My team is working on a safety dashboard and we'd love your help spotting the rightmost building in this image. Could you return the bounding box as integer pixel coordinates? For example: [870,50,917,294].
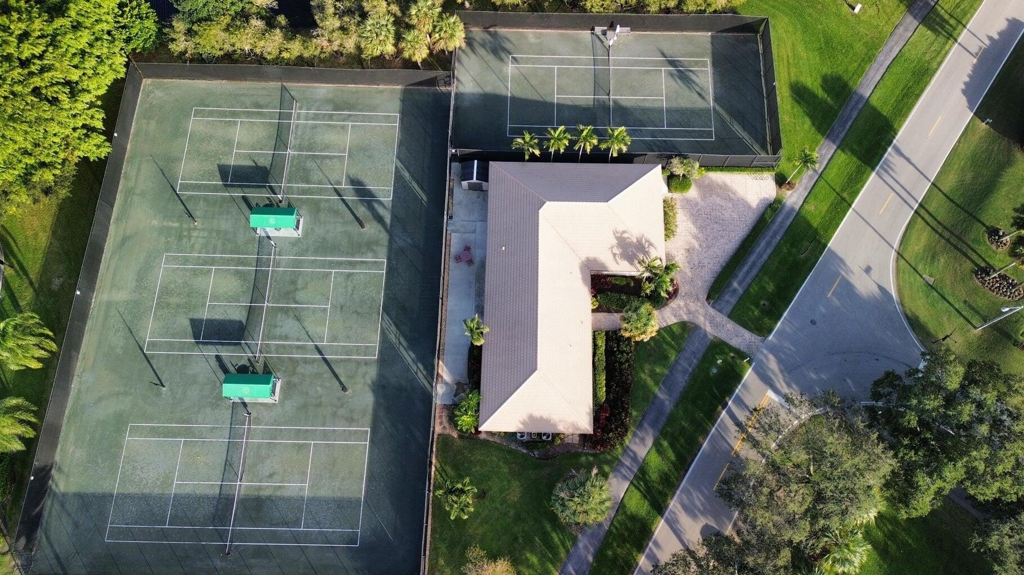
[478,159,667,434]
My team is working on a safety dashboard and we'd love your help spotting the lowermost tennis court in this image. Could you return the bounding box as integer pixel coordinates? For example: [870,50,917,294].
[28,386,435,575]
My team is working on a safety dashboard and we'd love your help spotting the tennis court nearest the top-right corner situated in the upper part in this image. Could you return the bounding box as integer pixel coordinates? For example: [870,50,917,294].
[450,27,773,169]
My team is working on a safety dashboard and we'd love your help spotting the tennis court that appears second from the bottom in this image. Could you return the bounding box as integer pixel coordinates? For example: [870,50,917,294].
[72,222,444,395]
